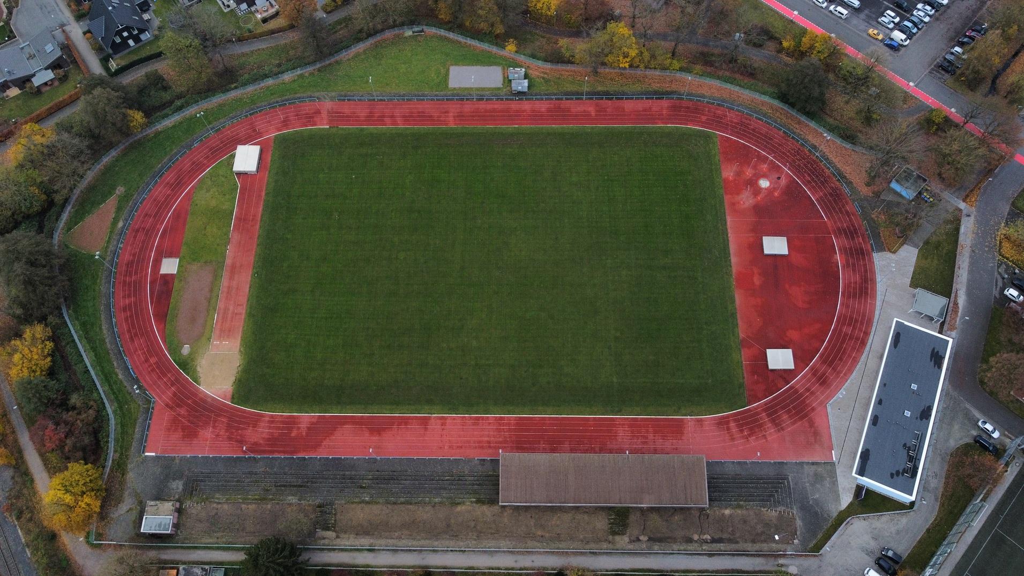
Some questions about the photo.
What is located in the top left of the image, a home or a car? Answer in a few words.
home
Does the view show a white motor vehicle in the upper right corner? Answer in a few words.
Yes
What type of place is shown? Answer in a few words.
sports ground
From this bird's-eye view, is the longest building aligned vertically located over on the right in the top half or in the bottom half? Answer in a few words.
bottom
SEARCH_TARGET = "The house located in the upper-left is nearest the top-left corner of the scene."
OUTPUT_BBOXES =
[0,30,68,99]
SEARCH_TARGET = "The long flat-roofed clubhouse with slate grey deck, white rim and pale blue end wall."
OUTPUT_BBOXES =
[852,319,953,504]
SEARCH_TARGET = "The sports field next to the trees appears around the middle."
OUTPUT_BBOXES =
[232,126,747,416]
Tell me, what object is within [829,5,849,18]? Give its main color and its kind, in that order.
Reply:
white vehicle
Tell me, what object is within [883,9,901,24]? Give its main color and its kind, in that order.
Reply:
white car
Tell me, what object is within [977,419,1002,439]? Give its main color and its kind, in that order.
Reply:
white car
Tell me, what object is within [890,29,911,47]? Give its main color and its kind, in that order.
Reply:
white vehicle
